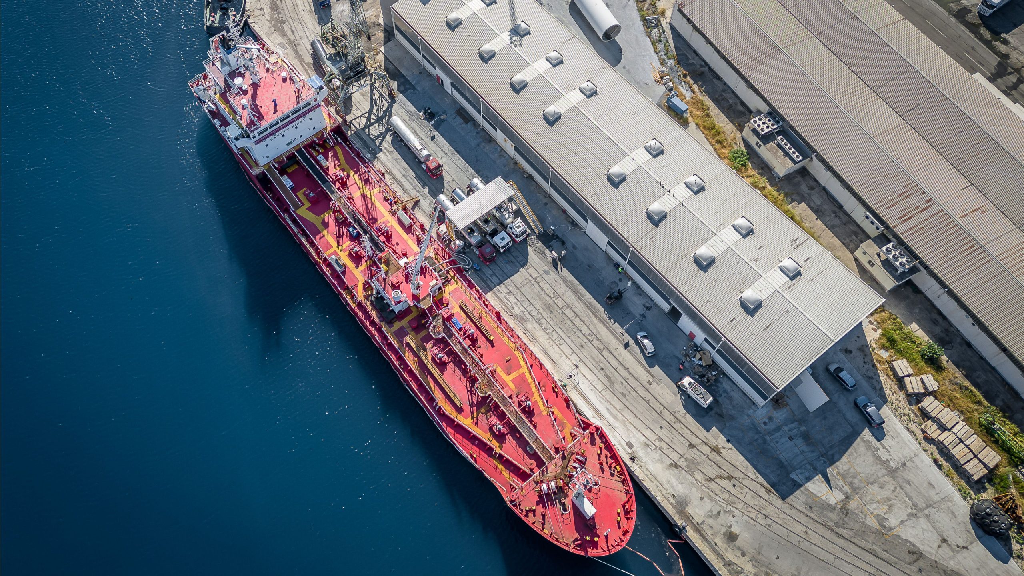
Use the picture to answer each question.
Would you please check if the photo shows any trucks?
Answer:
Yes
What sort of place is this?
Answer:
port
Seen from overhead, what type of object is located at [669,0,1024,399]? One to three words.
shed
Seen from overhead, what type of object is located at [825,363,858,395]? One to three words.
car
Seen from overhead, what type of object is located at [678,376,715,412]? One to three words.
truck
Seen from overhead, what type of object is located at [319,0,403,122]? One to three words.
crane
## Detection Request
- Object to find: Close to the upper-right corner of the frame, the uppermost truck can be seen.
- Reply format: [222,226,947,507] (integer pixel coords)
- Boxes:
[979,0,1010,21]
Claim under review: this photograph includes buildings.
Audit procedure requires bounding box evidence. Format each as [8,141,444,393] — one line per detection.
[669,0,1024,399]
[390,0,888,408]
